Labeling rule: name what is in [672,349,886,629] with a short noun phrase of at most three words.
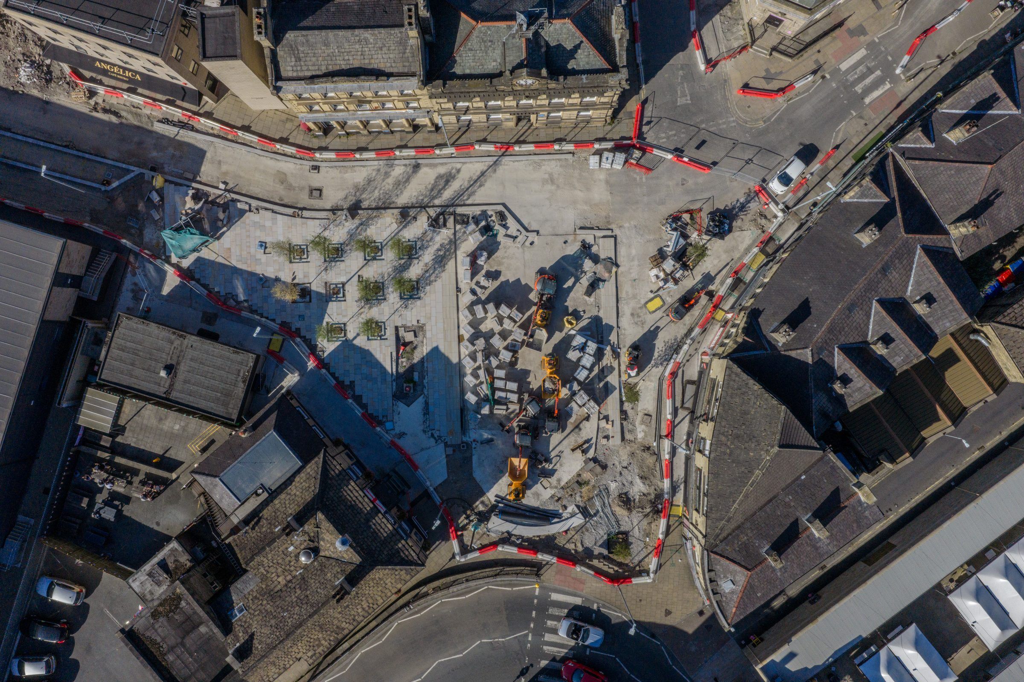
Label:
building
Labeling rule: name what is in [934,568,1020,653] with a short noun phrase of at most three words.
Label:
tent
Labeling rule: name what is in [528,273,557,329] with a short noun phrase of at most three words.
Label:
work vehicle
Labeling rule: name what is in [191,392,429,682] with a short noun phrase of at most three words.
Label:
building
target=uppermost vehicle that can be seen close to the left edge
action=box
[37,574,88,605]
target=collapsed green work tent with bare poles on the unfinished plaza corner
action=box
[158,213,217,257]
